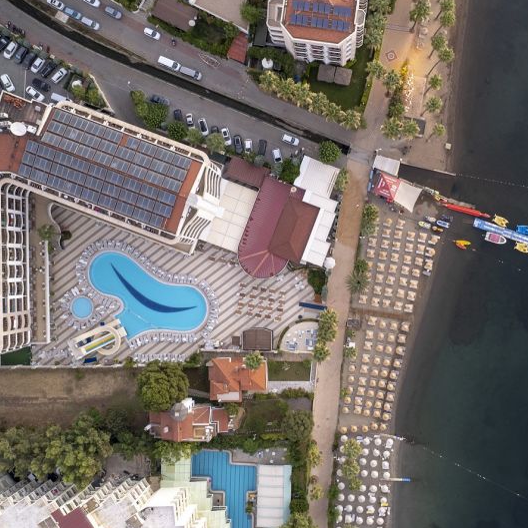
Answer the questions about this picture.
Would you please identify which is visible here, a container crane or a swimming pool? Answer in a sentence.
I can see a swimming pool in this picture.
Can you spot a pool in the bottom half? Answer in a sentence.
Yes, a pool shows up in the bottom half.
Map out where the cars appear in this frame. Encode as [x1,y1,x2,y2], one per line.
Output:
[25,84,44,102]
[62,5,82,20]
[22,51,38,68]
[78,14,101,30]
[183,109,195,129]
[30,76,51,93]
[156,55,179,70]
[84,0,101,7]
[52,66,68,84]
[257,137,267,157]
[40,59,58,79]
[31,57,46,74]
[210,120,220,138]
[271,146,282,164]
[0,34,12,53]
[102,4,124,20]
[172,105,183,123]
[0,73,16,91]
[279,133,302,146]
[14,45,30,64]
[197,116,209,138]
[4,41,20,59]
[48,89,70,102]
[244,137,253,154]
[232,133,242,153]
[142,26,161,40]
[221,125,231,145]
[178,64,200,80]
